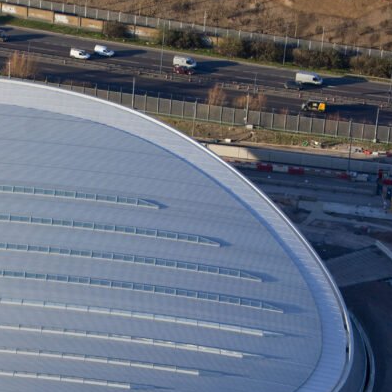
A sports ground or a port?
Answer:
sports ground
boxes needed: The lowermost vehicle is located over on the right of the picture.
[301,99,328,114]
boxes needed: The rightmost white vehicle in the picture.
[295,70,324,87]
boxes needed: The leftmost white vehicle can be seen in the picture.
[69,47,91,59]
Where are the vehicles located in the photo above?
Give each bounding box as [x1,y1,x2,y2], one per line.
[301,99,328,114]
[295,70,324,87]
[283,82,304,92]
[94,44,116,57]
[173,67,194,77]
[69,47,91,59]
[172,56,198,71]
